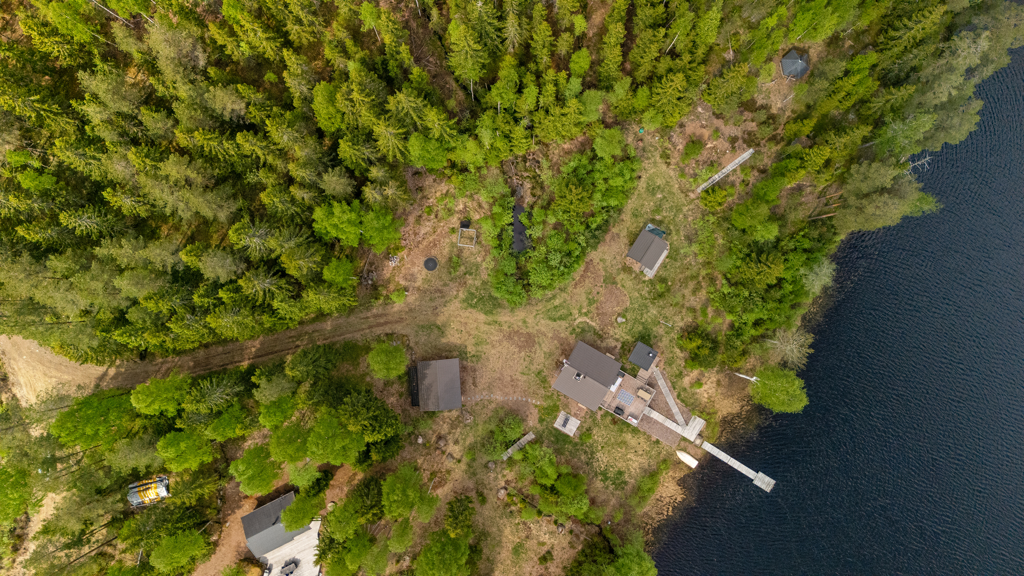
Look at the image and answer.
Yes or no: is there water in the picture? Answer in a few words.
Yes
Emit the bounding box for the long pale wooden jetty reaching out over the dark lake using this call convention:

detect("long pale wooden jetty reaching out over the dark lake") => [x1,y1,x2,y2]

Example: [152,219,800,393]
[701,441,776,492]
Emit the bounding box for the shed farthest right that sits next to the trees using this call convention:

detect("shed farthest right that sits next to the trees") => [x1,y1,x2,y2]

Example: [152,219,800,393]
[781,49,810,79]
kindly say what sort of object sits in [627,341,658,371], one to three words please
shed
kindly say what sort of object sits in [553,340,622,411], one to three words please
building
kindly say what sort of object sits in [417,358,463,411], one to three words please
shed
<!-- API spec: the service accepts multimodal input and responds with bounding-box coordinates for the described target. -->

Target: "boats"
[676,450,698,468]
